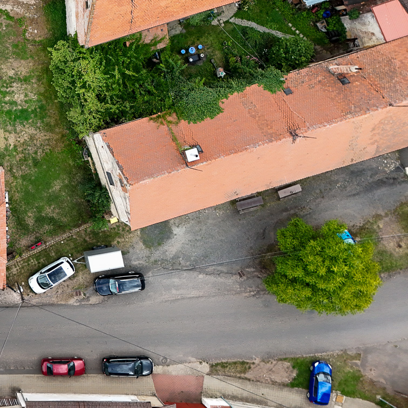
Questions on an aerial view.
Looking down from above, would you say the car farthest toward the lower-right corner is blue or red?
blue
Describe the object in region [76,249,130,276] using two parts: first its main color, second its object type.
white trailer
